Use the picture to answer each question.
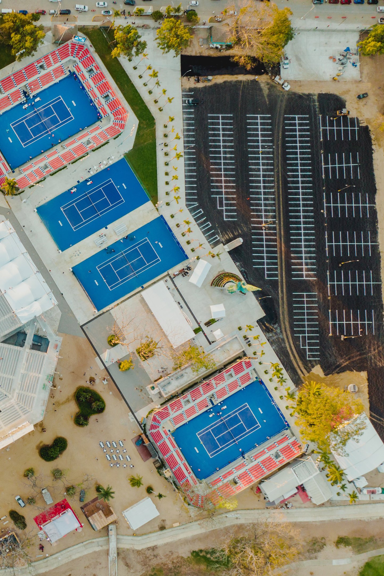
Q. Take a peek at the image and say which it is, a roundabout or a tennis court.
tennis court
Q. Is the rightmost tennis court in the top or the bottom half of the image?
bottom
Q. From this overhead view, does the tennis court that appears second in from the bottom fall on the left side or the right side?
left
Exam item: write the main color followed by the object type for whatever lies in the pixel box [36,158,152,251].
blue tennis court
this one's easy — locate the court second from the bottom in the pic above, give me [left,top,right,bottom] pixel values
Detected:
[72,215,189,311]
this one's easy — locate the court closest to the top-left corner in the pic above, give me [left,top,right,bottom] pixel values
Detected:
[0,71,102,170]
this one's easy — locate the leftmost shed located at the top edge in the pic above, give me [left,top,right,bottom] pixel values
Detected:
[52,24,78,45]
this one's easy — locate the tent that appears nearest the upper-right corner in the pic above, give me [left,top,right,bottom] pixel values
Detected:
[186,260,212,287]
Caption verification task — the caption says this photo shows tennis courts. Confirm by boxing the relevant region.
[0,71,102,170]
[172,379,288,480]
[36,158,152,251]
[72,215,189,311]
